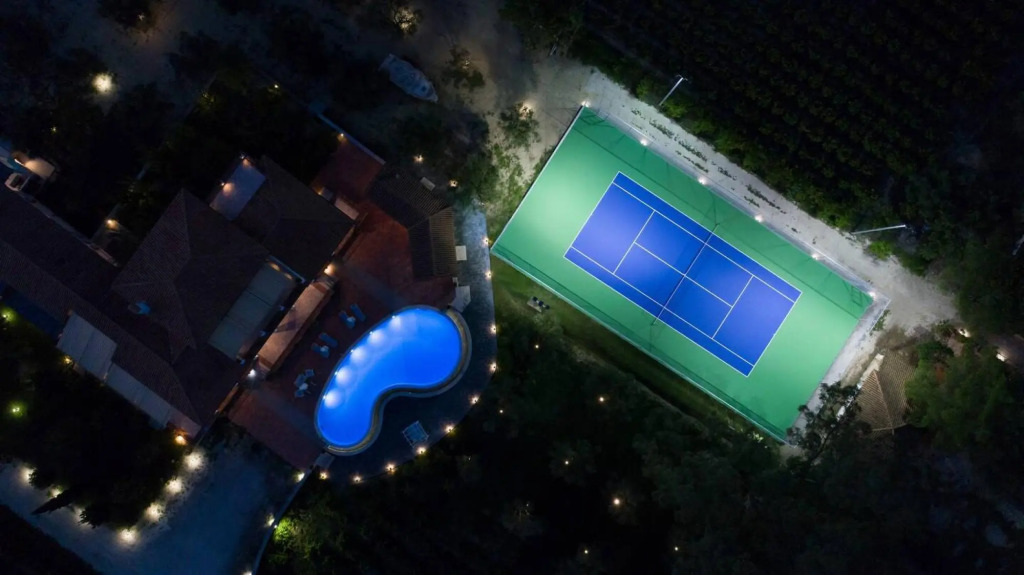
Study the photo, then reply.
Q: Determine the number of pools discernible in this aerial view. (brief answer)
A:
1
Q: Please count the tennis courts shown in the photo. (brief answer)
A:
1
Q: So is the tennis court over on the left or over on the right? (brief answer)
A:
right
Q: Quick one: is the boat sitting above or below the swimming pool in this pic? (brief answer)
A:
above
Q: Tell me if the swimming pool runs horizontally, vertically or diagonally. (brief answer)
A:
diagonally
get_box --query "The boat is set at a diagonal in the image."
[379,57,438,101]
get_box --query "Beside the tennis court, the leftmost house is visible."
[0,155,361,438]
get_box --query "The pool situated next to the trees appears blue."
[315,305,471,457]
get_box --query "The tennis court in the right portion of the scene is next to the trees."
[486,103,880,445]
